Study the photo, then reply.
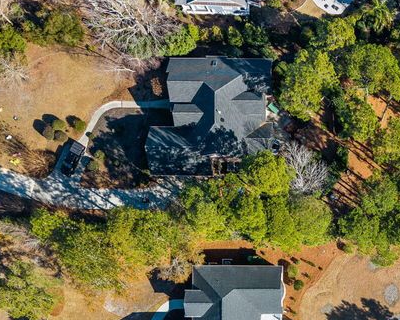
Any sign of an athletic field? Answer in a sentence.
No, I can't see a single athletic field in this photo.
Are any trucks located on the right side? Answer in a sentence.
No, there's no truck to be seen on the right side.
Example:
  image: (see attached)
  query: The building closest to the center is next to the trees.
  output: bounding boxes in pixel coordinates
[138,57,280,176]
